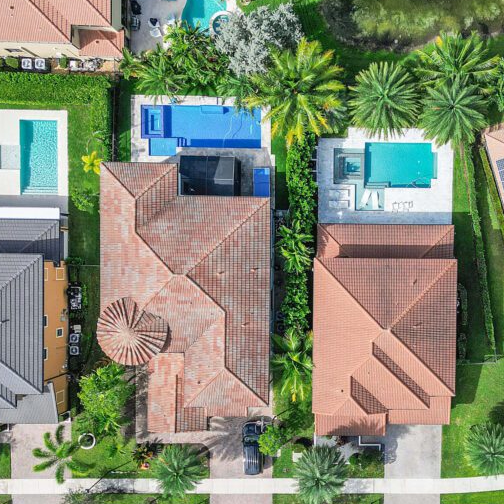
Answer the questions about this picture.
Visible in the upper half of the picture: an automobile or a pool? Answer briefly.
pool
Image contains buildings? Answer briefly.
Yes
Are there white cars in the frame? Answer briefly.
No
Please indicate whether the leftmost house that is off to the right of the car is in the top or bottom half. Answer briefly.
bottom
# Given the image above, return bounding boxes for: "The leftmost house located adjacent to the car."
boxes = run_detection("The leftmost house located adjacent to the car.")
[96,161,274,433]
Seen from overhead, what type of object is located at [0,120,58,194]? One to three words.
swimming pool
